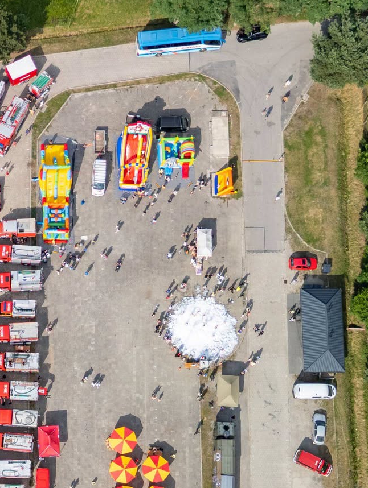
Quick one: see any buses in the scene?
Yes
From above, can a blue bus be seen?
Yes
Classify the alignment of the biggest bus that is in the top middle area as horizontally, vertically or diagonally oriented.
horizontally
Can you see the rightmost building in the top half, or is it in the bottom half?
bottom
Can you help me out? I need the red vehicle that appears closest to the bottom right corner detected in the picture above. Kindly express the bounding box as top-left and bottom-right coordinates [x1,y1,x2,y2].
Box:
[291,449,330,475]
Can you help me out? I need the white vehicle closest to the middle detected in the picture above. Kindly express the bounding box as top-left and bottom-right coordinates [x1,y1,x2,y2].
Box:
[91,158,107,197]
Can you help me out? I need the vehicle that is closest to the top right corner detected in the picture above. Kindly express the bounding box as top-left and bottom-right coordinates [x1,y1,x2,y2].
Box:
[236,25,268,44]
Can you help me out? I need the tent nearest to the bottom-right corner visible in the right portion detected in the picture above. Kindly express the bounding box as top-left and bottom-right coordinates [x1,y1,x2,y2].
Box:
[214,375,240,408]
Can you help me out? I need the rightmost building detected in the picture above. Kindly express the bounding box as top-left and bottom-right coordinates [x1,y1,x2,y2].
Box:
[297,288,343,374]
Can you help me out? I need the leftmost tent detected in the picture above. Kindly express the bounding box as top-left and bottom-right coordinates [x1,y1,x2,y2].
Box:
[38,425,60,456]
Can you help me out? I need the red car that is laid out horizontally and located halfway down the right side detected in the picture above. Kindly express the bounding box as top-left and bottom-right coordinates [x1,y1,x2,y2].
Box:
[288,255,318,270]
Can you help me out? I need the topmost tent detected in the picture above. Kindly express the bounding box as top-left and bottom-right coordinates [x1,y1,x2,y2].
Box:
[195,229,212,260]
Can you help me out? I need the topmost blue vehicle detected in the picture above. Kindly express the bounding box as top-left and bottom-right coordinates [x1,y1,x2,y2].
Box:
[136,25,228,58]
